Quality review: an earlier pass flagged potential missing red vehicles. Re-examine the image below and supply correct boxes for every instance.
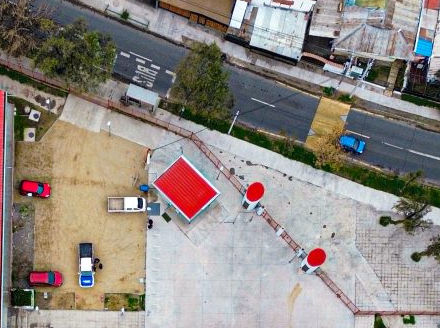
[29,269,63,287]
[19,180,51,199]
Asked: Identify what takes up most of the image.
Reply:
paved ground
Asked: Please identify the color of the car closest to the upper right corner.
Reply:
blue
